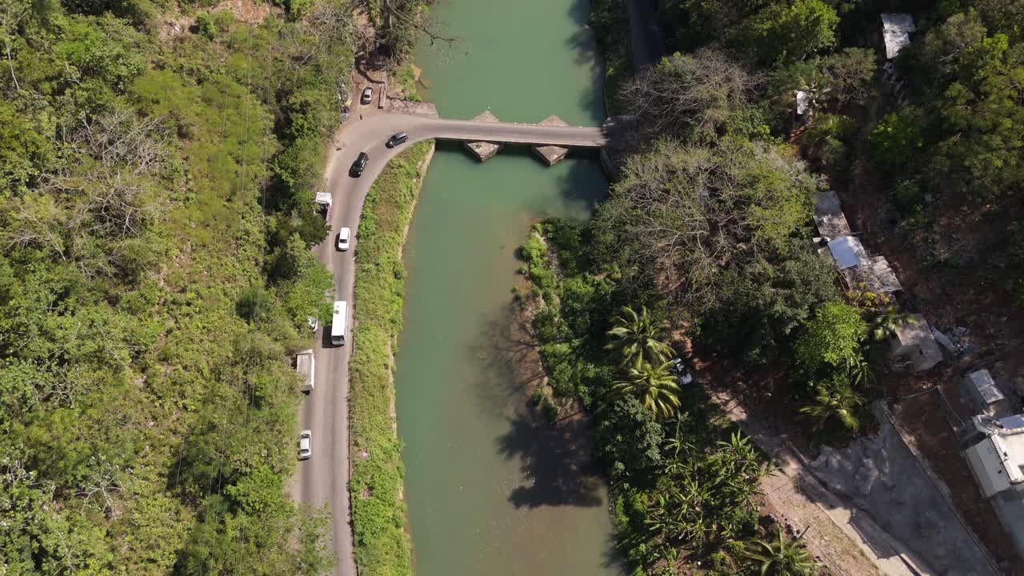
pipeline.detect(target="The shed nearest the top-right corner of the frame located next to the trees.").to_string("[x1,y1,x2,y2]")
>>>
[875,13,915,71]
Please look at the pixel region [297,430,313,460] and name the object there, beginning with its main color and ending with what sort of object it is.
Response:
white car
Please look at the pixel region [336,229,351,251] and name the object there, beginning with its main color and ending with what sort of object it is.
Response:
white car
